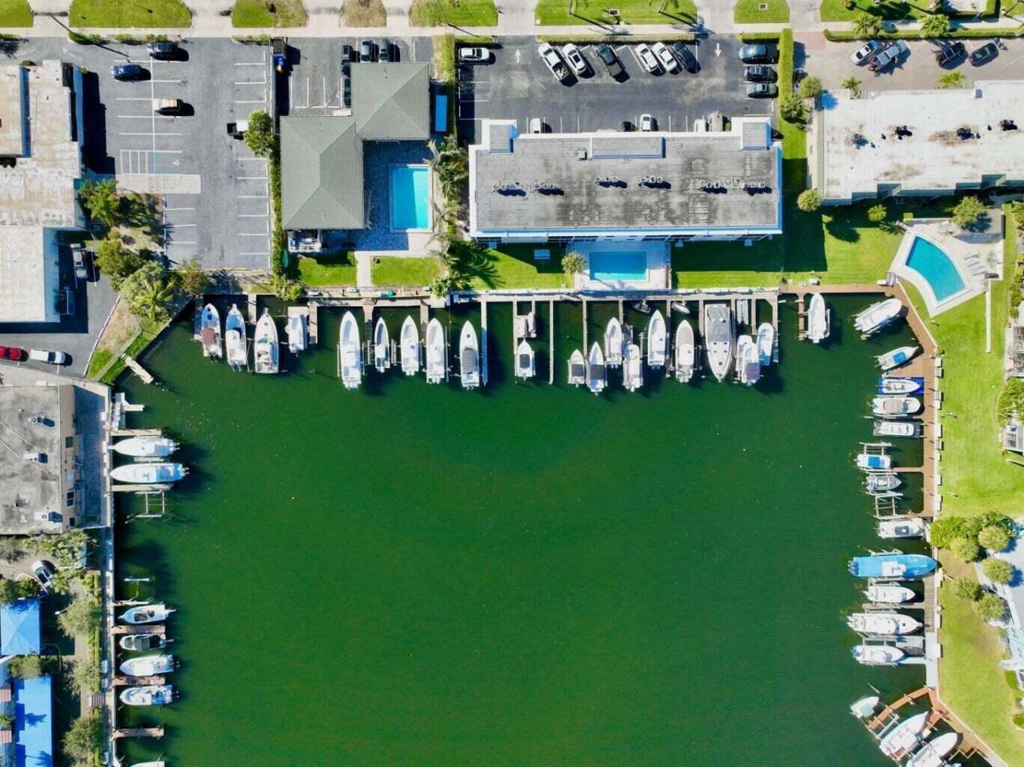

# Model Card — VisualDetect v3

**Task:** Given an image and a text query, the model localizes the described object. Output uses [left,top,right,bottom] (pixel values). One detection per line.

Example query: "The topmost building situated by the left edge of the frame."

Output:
[0,60,91,231]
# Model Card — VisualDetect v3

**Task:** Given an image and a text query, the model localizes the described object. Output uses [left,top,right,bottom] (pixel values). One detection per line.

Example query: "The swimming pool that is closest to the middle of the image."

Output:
[574,242,670,290]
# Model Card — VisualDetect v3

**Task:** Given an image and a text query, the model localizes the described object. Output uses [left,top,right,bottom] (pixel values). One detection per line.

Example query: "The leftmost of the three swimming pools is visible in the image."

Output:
[389,165,433,232]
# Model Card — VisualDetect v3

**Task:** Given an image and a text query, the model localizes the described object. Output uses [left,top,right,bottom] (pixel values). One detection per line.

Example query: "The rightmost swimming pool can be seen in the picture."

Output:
[891,209,1003,318]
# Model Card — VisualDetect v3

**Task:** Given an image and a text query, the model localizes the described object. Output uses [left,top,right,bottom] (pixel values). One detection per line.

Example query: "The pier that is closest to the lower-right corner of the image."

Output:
[941,712,1007,767]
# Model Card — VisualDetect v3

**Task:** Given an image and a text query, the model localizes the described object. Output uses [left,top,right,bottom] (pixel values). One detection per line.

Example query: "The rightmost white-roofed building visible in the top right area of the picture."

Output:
[809,79,1024,207]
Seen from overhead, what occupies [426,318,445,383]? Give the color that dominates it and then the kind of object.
white boat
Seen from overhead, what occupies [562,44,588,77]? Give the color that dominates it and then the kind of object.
white car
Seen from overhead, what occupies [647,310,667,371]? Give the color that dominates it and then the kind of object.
white boat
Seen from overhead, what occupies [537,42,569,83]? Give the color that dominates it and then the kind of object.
white truck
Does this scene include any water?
Yes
